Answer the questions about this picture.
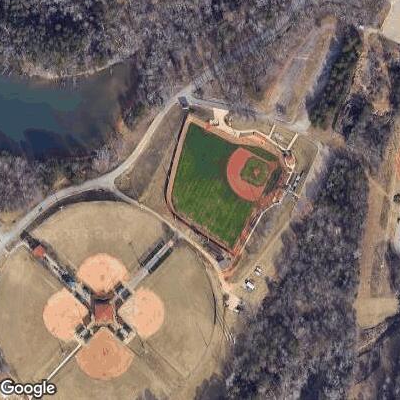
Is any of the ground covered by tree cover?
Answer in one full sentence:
Yes, the picture does contain tree cover.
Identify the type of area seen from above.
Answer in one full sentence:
The picture captures a sports ground.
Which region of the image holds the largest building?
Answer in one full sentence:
The largest building is in the bottom left part of the image.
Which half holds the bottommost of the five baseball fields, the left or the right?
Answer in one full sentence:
The bottommost of the five baseball fields appears in the left half of the scene.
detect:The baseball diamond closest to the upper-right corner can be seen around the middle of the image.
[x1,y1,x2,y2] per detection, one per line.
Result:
[165,113,288,256]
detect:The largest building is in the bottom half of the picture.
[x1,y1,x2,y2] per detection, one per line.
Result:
[94,302,113,324]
